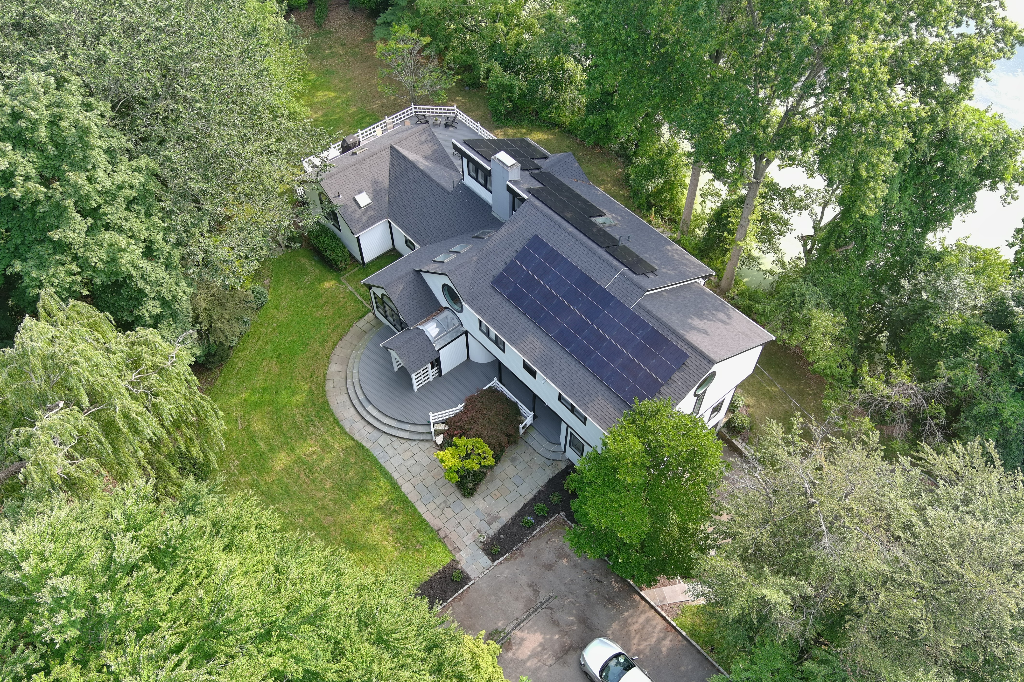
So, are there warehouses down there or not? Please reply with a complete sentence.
No, the frame has no warehouse in it.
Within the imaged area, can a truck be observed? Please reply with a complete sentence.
No, there is no truck in the image.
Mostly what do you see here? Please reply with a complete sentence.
For the most part, this view shows trees.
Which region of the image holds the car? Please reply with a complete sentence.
You can find the car in the bottom area of the picture.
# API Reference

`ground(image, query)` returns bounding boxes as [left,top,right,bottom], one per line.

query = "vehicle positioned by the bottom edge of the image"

[580,637,654,682]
